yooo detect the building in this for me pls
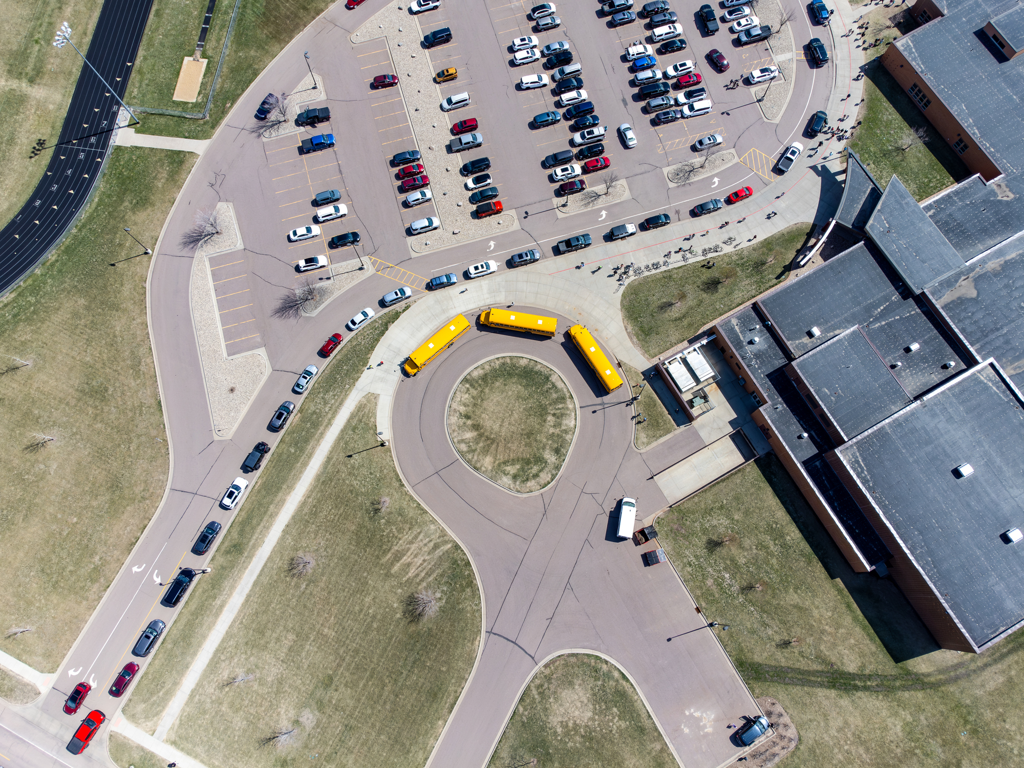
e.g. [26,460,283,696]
[708,0,1024,654]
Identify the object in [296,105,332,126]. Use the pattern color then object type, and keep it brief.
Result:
black truck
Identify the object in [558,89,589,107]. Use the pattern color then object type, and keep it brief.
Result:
white car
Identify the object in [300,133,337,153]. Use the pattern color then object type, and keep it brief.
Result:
blue vehicle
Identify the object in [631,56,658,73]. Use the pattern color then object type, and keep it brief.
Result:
blue car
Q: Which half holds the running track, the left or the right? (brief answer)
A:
left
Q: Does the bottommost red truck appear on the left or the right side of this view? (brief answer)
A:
left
